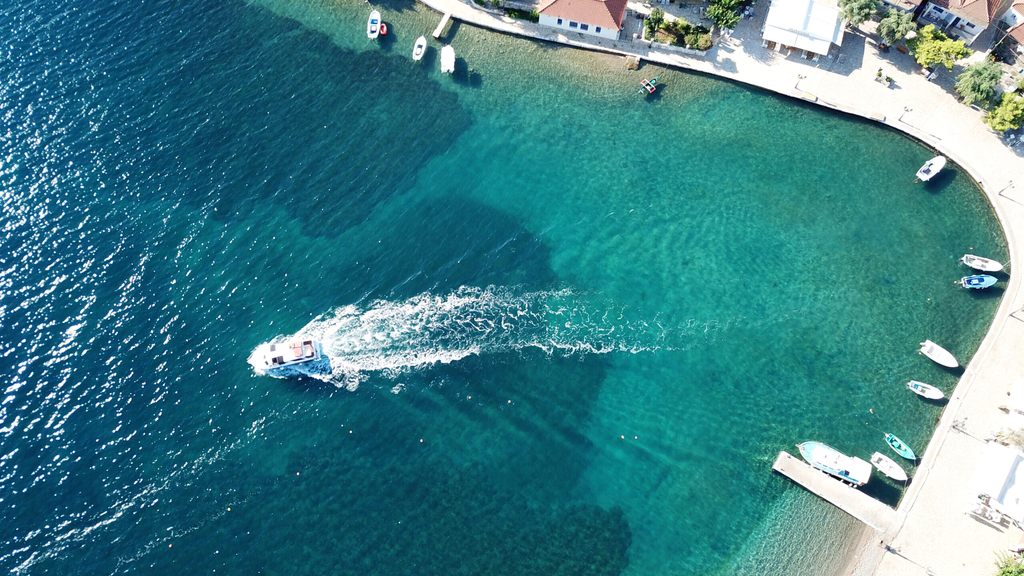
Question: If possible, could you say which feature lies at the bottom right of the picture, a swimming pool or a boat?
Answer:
boat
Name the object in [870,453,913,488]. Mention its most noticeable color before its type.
white boat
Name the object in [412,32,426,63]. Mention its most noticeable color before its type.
white boat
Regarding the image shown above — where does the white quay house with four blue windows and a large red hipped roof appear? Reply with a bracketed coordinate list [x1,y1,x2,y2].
[535,0,635,40]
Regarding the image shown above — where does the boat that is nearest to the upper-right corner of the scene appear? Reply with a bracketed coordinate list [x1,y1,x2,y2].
[915,150,946,184]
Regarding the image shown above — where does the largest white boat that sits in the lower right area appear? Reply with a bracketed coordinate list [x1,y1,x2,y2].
[792,441,876,490]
